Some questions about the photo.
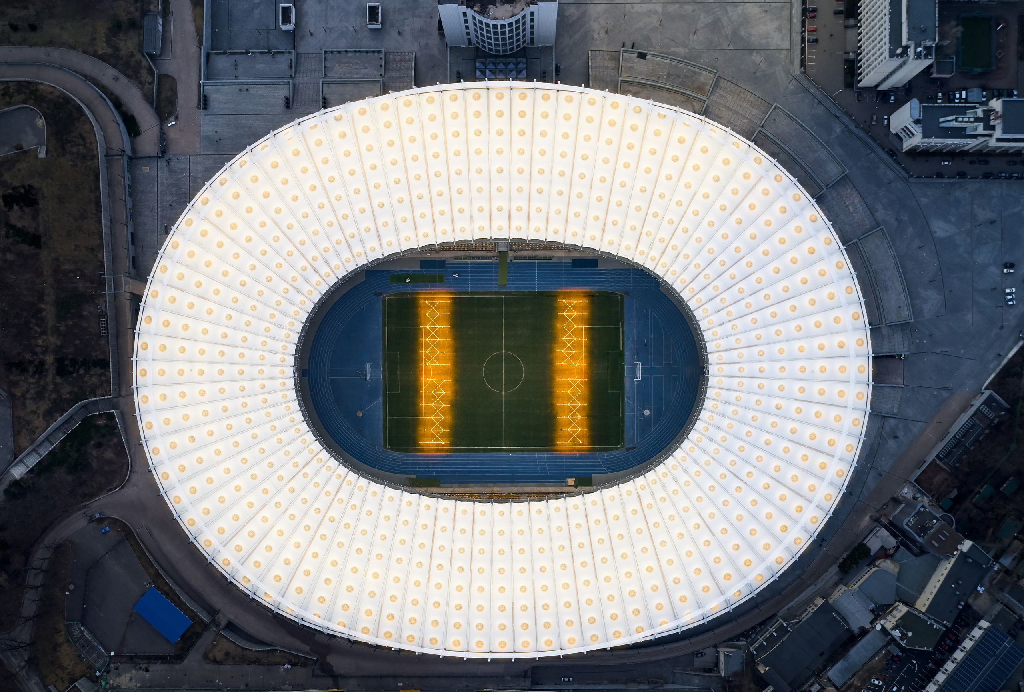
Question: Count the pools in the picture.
0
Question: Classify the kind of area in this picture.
sports ground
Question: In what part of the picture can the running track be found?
center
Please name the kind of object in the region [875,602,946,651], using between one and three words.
building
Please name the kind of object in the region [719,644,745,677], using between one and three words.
building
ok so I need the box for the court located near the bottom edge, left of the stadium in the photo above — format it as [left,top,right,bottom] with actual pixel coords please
[66,614,111,675]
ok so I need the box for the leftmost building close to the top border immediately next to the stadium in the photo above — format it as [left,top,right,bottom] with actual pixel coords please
[436,0,558,60]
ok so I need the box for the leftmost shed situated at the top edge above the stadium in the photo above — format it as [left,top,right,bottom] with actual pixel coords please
[142,13,165,59]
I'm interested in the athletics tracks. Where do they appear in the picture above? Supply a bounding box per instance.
[298,258,705,484]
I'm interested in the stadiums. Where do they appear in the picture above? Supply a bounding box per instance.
[130,77,872,665]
